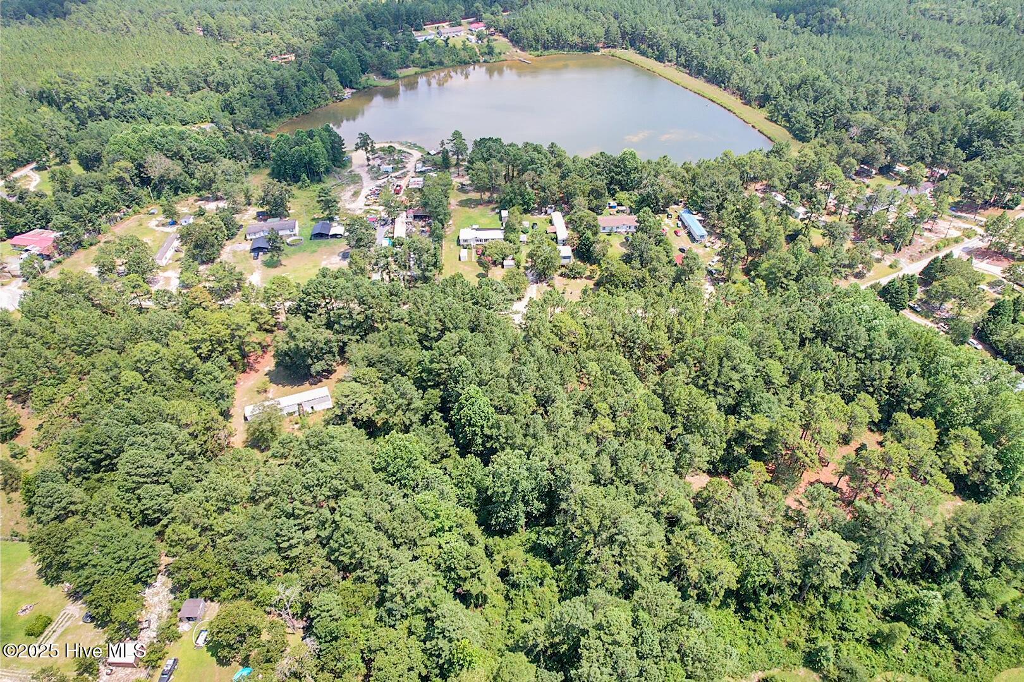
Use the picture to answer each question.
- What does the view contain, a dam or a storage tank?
dam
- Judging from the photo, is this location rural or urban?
rural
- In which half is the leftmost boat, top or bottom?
bottom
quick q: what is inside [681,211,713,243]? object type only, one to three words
house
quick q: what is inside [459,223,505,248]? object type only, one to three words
house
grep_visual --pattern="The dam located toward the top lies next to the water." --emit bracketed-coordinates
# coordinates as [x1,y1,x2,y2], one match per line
[605,45,806,157]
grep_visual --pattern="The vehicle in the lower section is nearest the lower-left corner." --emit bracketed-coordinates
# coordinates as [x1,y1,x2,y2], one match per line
[154,651,183,682]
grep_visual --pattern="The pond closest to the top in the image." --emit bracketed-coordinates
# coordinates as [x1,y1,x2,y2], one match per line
[274,53,773,174]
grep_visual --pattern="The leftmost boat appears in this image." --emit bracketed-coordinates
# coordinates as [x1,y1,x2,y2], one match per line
[187,620,207,652]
